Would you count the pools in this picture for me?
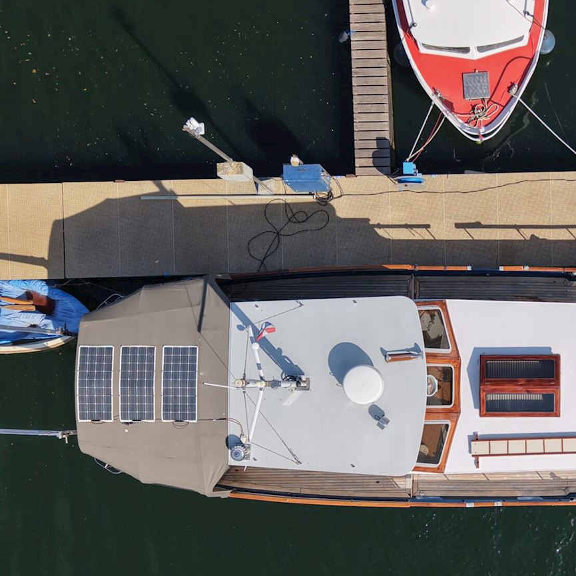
0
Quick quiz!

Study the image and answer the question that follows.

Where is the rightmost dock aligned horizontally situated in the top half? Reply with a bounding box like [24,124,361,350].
[64,169,576,279]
